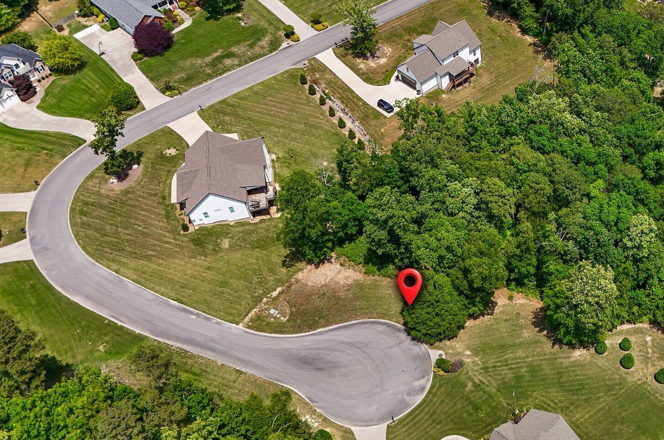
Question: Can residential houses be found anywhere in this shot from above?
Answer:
Yes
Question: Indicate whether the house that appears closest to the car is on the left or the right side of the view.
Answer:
right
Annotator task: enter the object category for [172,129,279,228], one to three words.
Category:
house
